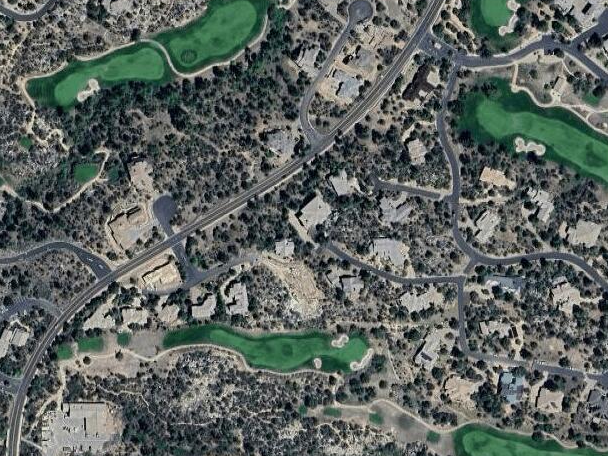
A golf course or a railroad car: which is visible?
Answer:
golf course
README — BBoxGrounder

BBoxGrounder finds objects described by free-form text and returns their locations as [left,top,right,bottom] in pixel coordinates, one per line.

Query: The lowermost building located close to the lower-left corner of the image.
[63,402,109,437]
